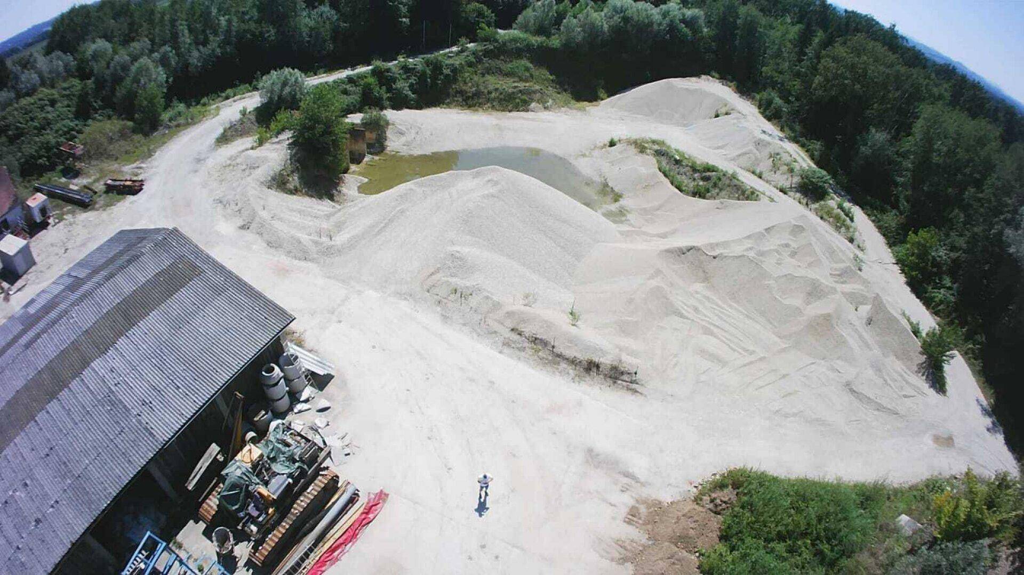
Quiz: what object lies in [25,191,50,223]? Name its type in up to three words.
building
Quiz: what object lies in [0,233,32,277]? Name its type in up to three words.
building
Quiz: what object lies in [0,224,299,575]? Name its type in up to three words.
shed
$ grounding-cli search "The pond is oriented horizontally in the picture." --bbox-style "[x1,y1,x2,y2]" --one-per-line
[351,146,622,216]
